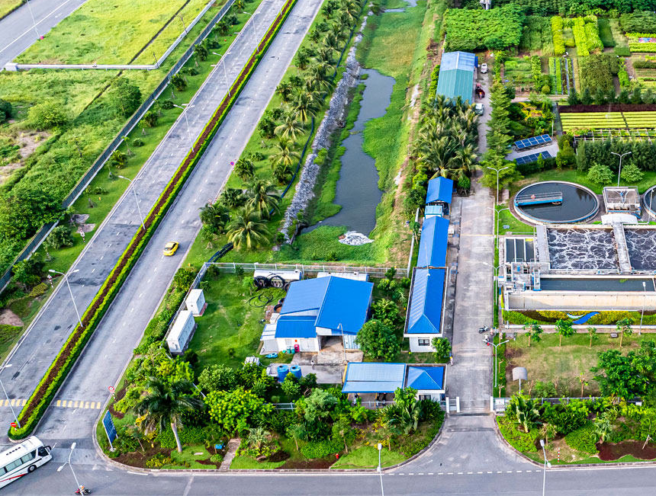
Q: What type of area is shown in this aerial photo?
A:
industrial area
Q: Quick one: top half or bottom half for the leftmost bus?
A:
bottom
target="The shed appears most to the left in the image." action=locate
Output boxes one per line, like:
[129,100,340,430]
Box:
[254,275,371,355]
